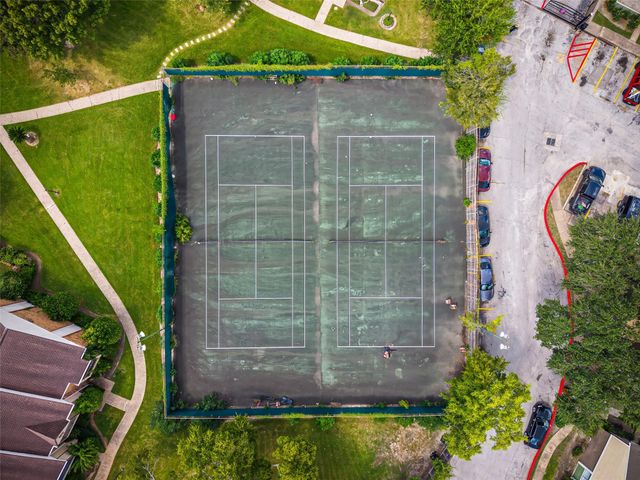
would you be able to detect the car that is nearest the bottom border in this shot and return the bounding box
[522,401,554,449]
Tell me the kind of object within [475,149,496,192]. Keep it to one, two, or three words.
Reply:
car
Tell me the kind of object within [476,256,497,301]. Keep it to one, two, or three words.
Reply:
car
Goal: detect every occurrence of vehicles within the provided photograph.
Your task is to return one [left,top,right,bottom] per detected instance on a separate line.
[566,167,608,214]
[476,256,497,301]
[522,401,554,449]
[622,65,640,109]
[473,109,494,140]
[475,149,496,192]
[473,204,494,248]
[620,192,640,214]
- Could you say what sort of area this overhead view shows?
sports ground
